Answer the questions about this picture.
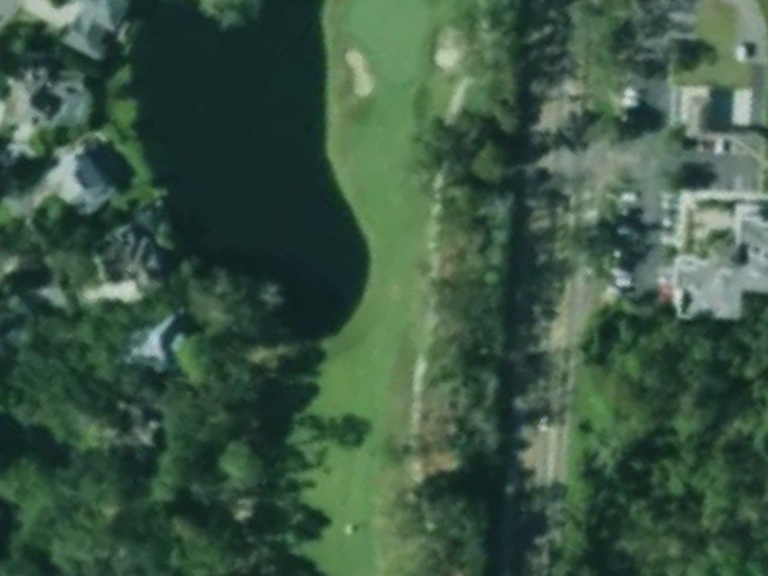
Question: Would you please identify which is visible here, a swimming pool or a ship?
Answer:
swimming pool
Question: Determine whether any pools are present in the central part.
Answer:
No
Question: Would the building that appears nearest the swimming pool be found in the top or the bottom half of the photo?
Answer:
top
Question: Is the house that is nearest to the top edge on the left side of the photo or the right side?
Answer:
left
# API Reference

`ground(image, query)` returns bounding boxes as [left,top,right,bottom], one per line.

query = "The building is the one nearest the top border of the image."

[62,0,130,54]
